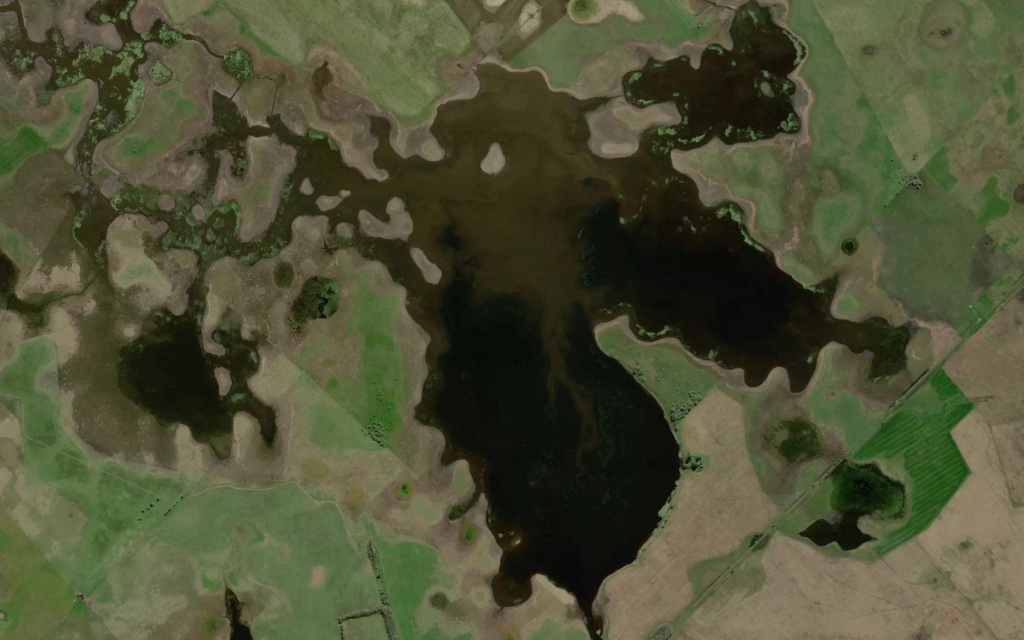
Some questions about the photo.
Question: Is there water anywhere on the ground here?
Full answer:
Yes, there is water in the image.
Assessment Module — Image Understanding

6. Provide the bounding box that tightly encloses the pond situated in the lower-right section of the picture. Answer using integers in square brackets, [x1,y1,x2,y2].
[800,507,876,550]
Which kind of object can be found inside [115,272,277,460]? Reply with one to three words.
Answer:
pond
